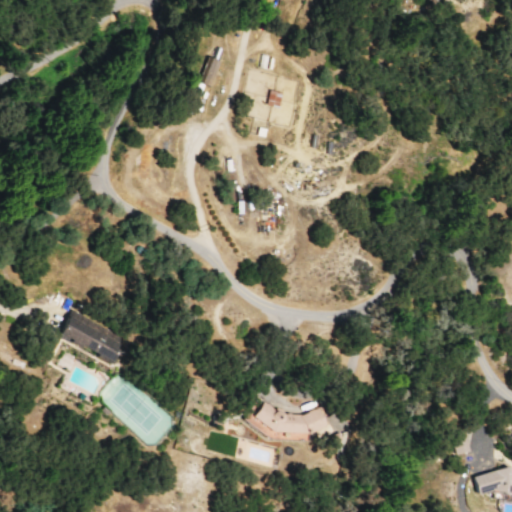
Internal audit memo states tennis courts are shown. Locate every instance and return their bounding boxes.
[100,378,173,446]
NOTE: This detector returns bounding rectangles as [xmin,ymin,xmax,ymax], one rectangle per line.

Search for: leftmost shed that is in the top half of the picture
[202,58,220,86]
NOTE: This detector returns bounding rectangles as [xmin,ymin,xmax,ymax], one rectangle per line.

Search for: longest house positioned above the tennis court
[62,311,121,362]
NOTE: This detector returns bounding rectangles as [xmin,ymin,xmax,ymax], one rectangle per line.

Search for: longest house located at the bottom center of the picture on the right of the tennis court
[250,404,334,441]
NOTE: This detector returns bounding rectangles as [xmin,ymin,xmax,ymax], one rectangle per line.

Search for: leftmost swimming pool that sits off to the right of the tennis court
[235,438,274,464]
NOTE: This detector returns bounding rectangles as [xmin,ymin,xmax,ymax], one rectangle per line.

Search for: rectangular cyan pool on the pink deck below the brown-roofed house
[58,354,109,396]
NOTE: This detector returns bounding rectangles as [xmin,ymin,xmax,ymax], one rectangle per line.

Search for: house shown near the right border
[473,466,512,495]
